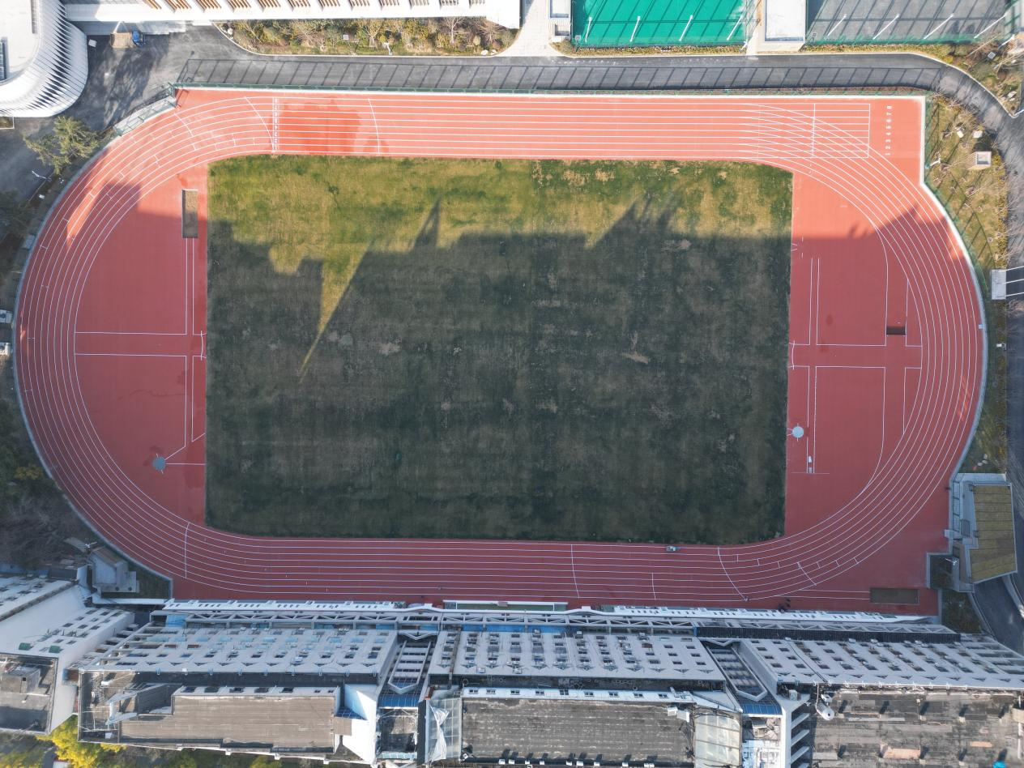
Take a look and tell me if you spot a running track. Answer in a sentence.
Yes, there is a running track in the image.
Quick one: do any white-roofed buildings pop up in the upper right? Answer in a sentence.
Yes, a white-roofed building is visible in the upper right.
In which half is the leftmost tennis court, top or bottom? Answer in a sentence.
The leftmost tennis court is in the top half of the image.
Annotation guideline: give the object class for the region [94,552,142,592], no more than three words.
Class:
house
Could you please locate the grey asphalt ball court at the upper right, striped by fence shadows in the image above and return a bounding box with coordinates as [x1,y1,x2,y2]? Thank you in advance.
[809,0,1008,44]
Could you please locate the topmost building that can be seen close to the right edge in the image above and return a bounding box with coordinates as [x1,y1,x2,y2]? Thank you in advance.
[943,472,1018,592]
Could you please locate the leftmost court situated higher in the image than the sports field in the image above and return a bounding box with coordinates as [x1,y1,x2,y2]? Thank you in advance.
[573,0,756,43]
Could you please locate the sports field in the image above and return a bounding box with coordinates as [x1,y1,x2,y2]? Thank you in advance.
[205,153,795,547]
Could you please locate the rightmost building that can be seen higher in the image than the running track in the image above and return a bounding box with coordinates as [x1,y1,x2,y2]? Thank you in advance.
[756,0,806,52]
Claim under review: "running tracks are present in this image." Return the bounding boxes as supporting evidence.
[12,86,988,626]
